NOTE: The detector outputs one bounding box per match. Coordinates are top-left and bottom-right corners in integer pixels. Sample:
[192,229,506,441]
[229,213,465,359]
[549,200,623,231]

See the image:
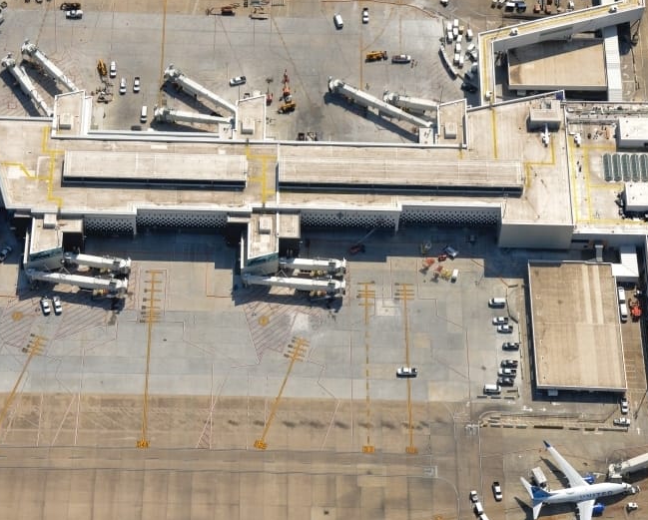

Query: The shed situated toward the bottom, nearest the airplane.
[528,260,627,395]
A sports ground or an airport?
airport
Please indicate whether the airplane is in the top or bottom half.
bottom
